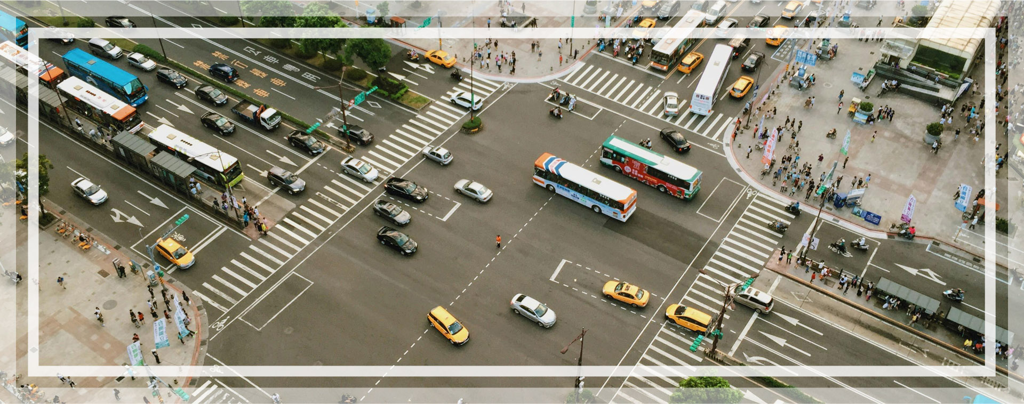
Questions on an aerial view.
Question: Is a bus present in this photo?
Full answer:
Yes, the picture does show a bus.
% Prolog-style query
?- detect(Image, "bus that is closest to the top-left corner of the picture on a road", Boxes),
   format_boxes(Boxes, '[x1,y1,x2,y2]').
[0,14,37,52]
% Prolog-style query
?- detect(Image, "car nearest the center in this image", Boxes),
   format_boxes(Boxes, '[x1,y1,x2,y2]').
[452,181,495,205]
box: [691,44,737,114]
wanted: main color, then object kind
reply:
white bus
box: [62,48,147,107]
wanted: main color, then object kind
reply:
blue bus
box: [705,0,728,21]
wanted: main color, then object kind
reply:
white car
